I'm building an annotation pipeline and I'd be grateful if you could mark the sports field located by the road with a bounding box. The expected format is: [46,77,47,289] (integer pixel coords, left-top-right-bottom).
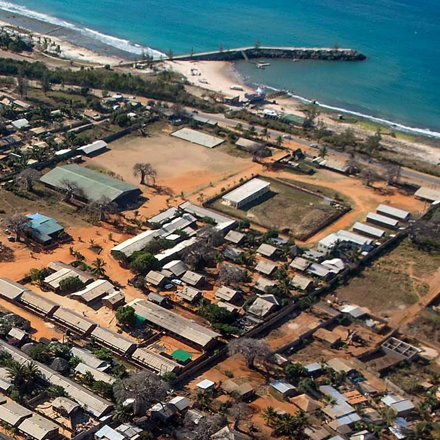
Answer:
[83,121,266,196]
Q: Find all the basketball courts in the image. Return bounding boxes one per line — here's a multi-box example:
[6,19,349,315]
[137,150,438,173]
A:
[170,127,224,148]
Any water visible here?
Yes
